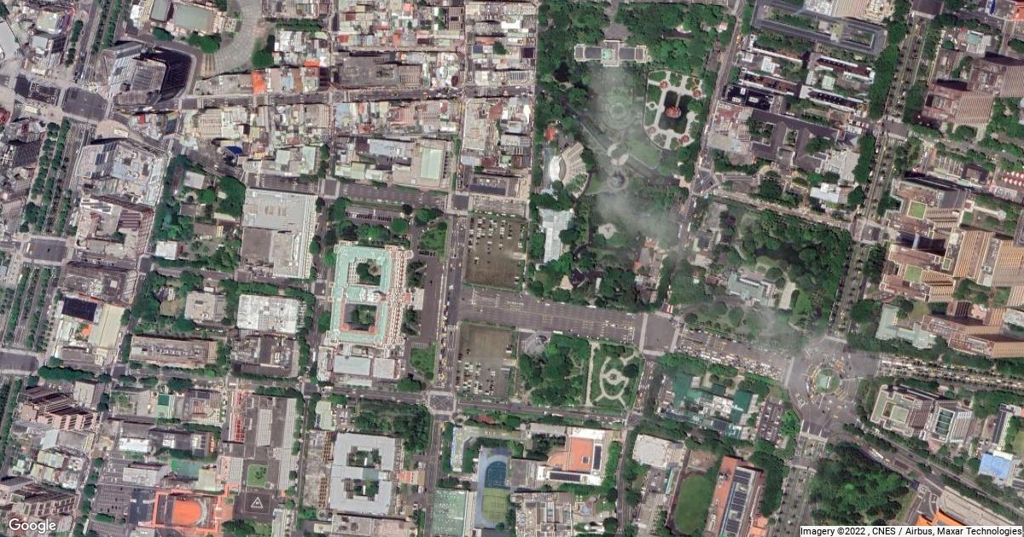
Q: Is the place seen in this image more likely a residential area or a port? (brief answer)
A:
residential area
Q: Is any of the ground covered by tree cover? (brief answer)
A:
Yes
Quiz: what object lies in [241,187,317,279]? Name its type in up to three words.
building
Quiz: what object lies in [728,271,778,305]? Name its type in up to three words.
house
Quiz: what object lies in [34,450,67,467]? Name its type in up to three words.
house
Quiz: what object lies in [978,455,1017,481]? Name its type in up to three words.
building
